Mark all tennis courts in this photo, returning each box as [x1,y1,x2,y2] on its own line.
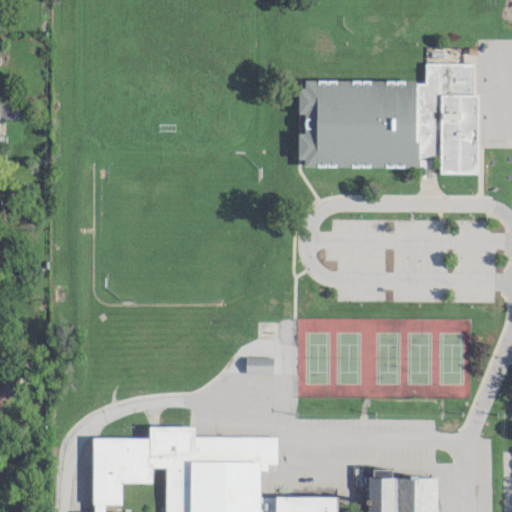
[438,332,466,385]
[407,332,432,385]
[336,332,362,385]
[306,332,331,385]
[375,332,401,385]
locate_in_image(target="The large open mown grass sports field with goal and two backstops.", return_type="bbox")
[97,112,286,303]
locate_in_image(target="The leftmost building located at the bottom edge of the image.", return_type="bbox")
[93,426,278,512]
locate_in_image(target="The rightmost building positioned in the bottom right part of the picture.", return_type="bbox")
[366,468,438,512]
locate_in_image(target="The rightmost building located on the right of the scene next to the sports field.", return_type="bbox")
[300,64,479,176]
